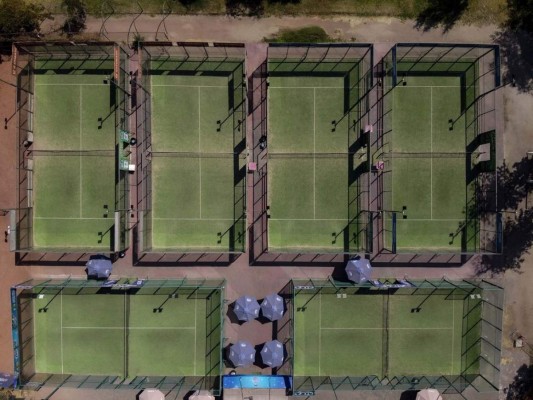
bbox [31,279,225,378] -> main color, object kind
green sports court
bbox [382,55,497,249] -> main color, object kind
green sports court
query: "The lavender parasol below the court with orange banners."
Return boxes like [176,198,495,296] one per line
[86,255,112,281]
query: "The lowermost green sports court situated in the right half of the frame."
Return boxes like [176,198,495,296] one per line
[289,279,484,378]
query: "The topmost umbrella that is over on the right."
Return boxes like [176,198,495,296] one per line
[344,256,372,284]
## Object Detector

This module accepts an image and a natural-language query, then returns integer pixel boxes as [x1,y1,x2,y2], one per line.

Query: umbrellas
[416,389,442,400]
[228,340,255,368]
[259,292,285,318]
[86,255,112,281]
[233,294,259,321]
[260,339,286,365]
[138,389,164,400]
[344,256,372,284]
[189,390,214,400]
